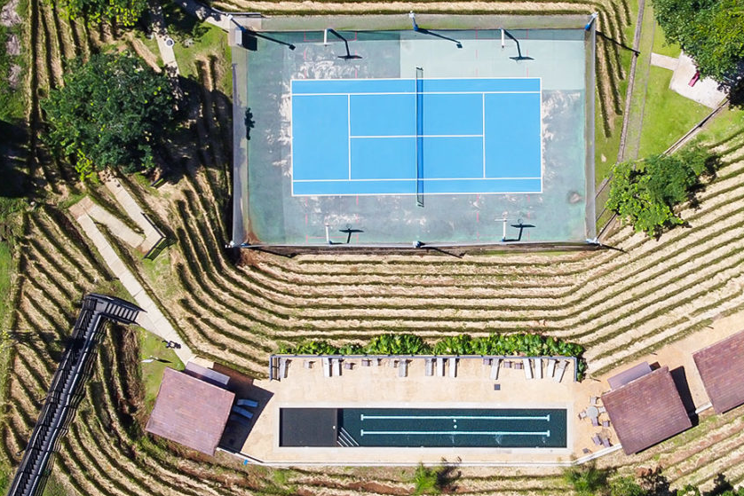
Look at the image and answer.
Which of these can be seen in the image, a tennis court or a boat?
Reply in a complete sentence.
Looking from above, you can make out a tennis court.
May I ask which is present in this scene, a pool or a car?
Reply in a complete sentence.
The image shows a pool.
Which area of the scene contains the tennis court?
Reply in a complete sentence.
You can find the tennis court in the top area of the picture.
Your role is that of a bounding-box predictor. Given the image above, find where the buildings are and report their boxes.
[601,359,692,455]
[692,327,744,414]
[145,358,239,456]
